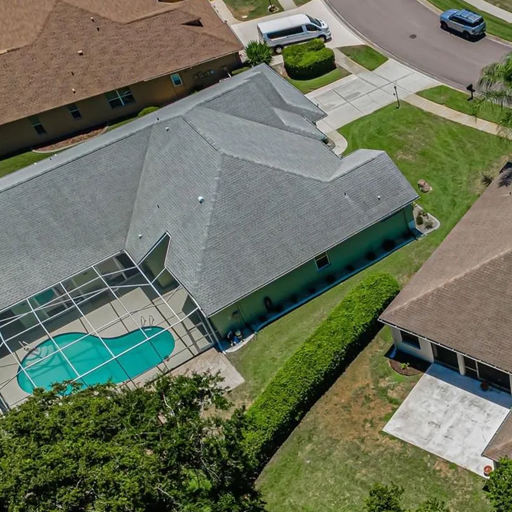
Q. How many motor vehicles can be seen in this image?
2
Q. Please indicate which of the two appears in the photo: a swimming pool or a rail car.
swimming pool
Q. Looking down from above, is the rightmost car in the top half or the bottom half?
top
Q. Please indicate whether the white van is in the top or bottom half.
top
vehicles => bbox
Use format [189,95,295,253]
[435,7,486,39]
[255,10,333,53]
